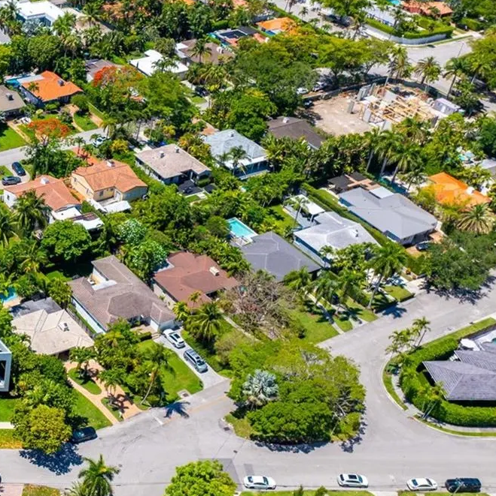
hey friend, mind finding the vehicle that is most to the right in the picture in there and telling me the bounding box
[440,475,488,495]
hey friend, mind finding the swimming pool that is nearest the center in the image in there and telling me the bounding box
[224,213,262,242]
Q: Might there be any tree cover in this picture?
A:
Yes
